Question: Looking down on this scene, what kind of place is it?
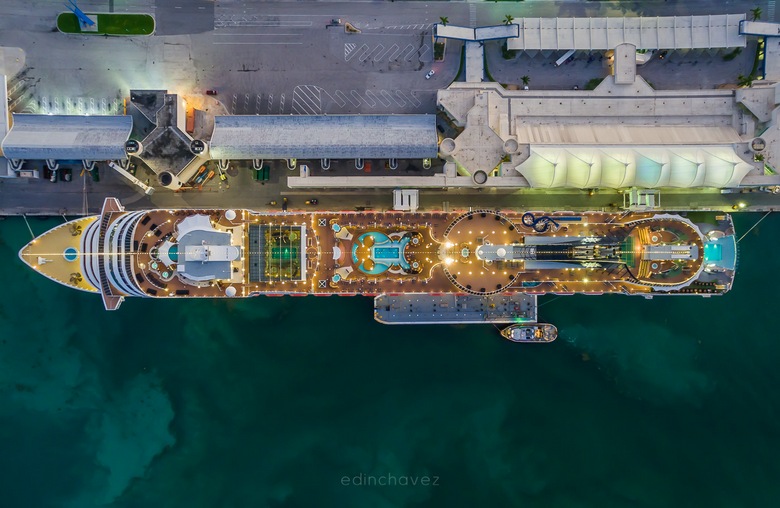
port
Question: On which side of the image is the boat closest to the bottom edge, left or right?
right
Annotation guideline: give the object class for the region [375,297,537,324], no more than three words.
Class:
ship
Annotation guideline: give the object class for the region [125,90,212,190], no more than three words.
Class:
building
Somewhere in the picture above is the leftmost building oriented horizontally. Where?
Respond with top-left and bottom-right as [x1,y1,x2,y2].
[3,112,138,171]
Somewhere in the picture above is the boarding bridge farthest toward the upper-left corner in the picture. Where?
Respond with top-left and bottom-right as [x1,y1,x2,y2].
[108,161,155,196]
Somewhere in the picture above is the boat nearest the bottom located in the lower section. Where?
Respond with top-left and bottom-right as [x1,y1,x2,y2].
[500,323,558,343]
